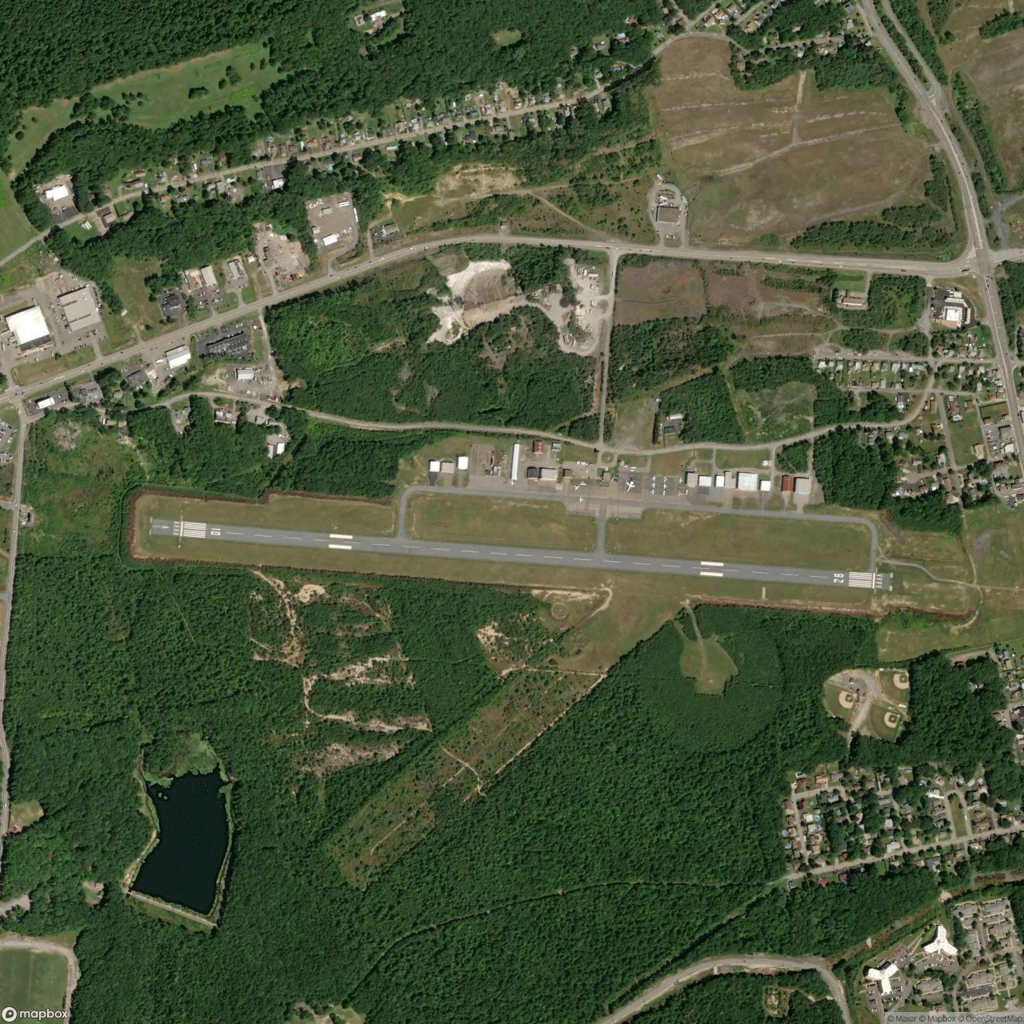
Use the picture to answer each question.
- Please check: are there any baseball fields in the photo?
Yes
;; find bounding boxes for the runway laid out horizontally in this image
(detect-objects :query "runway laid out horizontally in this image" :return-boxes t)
[151,519,890,589]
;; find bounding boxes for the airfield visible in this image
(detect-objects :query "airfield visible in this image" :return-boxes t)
[150,444,893,598]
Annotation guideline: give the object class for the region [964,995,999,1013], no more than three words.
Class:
building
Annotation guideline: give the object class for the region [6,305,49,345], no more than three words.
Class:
building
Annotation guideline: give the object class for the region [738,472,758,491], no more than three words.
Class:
hangar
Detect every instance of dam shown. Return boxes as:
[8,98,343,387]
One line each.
[128,890,218,932]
